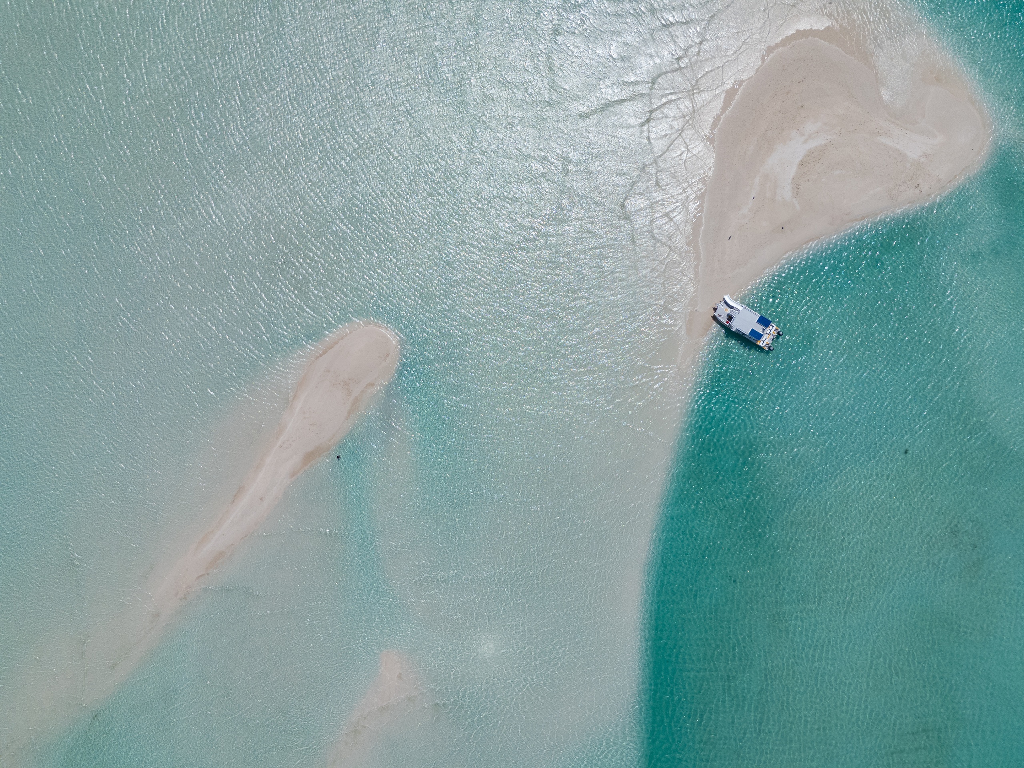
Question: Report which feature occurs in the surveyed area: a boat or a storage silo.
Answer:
boat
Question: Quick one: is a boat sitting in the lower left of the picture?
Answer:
No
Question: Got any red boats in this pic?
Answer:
No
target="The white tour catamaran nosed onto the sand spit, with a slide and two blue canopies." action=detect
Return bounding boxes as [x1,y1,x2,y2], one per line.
[713,293,784,351]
